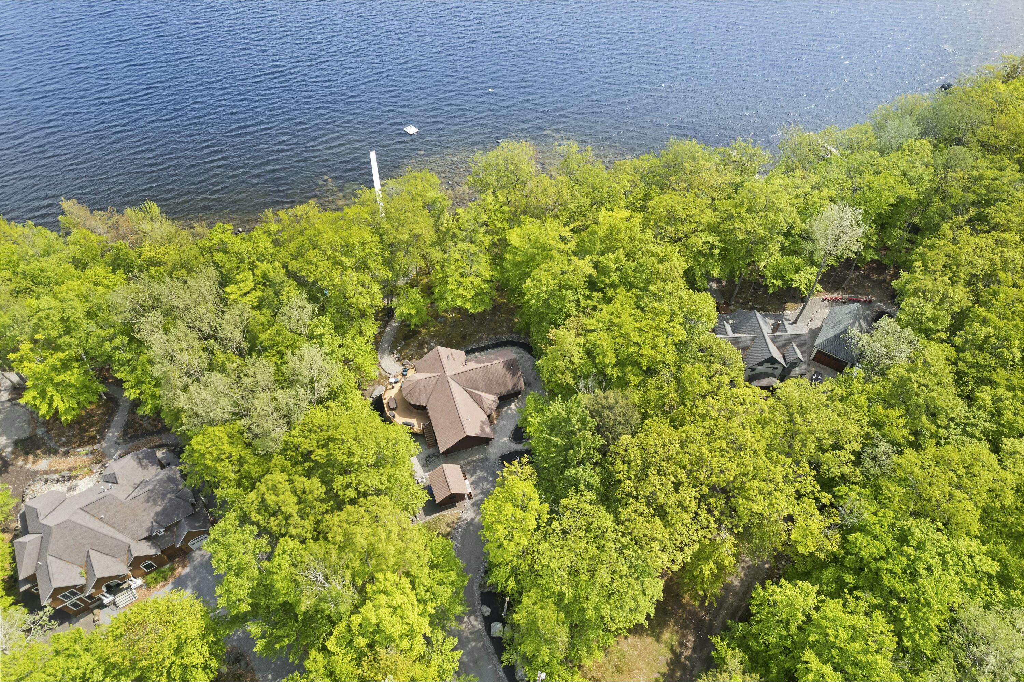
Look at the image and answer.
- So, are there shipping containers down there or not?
No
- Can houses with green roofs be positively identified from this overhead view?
No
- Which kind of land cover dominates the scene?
trees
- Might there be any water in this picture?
Yes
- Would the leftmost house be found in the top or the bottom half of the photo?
bottom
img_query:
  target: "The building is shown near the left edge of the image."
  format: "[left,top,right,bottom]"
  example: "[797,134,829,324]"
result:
[14,448,214,617]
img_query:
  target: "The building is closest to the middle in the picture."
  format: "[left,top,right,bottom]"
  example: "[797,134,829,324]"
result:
[382,347,524,459]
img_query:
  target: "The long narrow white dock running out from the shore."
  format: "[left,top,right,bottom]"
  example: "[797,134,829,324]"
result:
[369,148,386,217]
